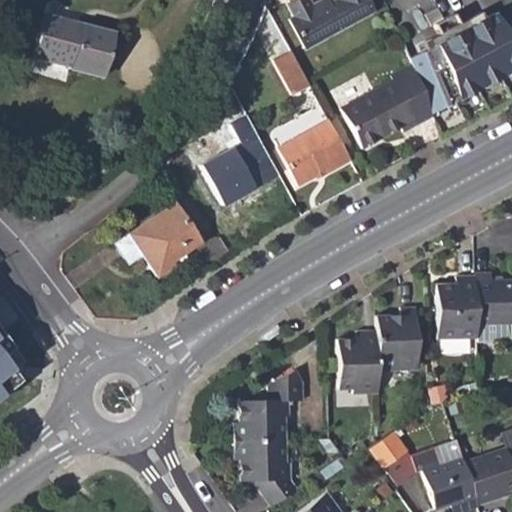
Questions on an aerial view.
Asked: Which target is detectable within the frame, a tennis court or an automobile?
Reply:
automobile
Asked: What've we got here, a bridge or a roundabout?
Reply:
roundabout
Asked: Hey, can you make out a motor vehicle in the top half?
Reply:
Yes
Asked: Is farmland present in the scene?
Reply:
No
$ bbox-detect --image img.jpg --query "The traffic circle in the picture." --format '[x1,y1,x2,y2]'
[45,327,190,458]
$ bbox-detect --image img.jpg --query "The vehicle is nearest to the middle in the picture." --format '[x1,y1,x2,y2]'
[220,272,242,290]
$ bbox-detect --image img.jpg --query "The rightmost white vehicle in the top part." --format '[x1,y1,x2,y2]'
[486,120,512,140]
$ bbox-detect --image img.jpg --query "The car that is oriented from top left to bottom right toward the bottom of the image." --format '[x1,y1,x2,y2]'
[195,481,214,502]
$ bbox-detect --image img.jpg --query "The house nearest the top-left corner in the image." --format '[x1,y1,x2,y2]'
[40,16,119,80]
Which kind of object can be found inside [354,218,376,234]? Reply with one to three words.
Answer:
car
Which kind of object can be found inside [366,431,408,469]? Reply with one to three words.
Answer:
house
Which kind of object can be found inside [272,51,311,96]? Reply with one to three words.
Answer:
building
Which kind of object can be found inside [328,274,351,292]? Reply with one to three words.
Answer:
car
